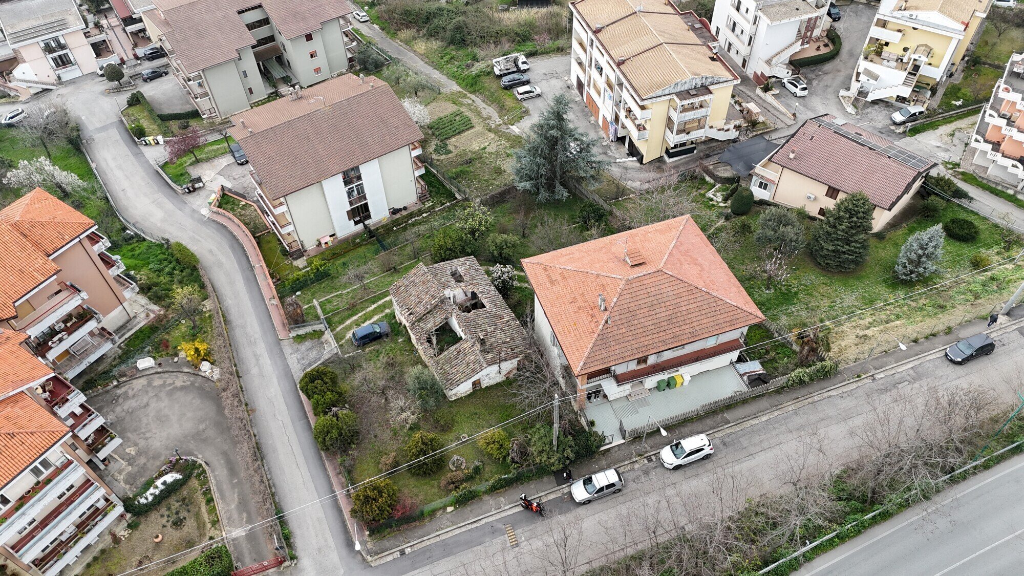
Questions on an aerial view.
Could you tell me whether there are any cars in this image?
Yes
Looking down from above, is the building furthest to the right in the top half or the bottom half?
top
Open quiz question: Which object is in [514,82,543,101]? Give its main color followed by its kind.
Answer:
white car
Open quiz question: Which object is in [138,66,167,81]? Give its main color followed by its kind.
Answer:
gray car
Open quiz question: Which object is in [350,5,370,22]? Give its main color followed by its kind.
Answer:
white car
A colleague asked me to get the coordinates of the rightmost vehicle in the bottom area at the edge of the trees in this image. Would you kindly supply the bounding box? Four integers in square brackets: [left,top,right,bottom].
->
[950,335,1006,367]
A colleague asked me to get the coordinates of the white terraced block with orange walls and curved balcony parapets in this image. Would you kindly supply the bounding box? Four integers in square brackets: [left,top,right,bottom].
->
[960,66,1024,181]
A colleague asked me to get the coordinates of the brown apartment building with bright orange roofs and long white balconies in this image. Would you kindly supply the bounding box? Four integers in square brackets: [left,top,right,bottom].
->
[0,189,163,576]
